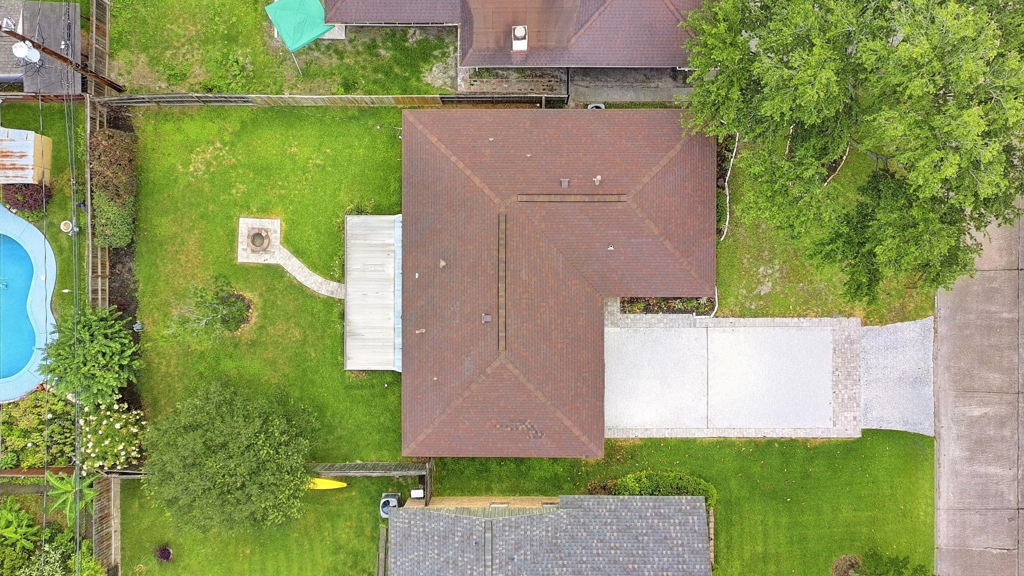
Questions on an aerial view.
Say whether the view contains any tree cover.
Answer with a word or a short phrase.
Yes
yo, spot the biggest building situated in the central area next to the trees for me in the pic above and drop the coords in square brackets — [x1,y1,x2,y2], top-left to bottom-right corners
[400,107,718,459]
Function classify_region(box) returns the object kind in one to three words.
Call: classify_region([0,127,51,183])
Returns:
shed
